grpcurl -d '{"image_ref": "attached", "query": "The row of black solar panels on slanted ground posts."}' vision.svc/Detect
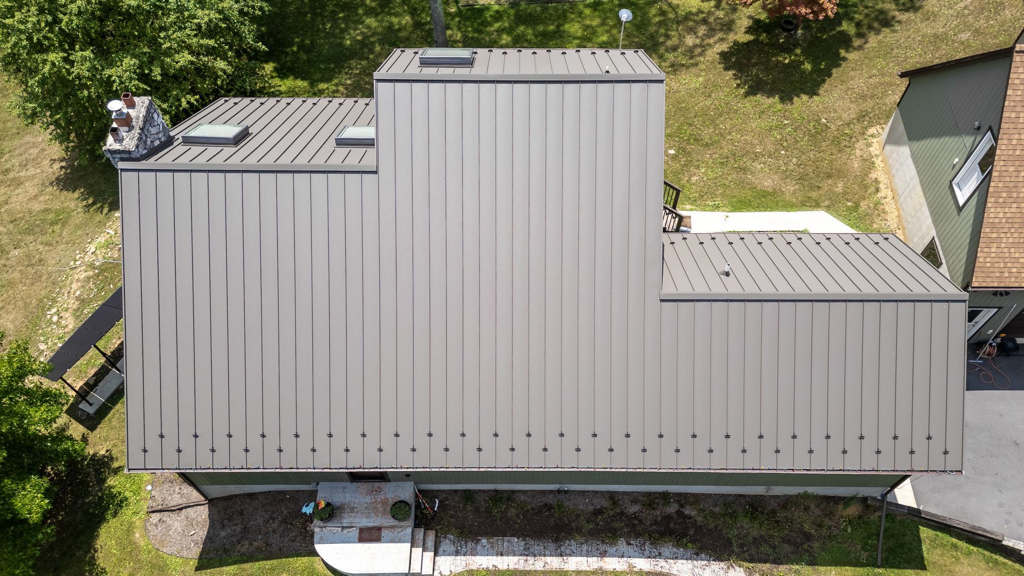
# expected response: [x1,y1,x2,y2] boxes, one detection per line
[38,283,122,406]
